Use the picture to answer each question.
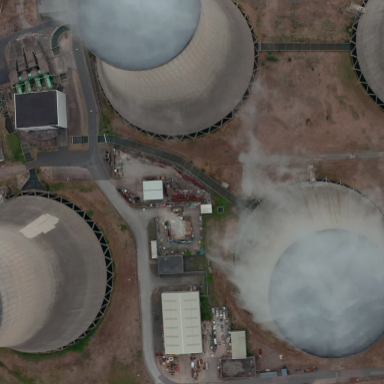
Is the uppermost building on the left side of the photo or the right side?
left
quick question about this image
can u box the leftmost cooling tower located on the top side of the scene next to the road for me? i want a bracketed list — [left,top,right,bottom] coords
[78,0,259,140]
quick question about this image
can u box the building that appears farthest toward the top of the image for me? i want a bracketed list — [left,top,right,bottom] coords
[16,90,67,130]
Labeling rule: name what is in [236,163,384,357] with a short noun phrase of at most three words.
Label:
cooling tower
